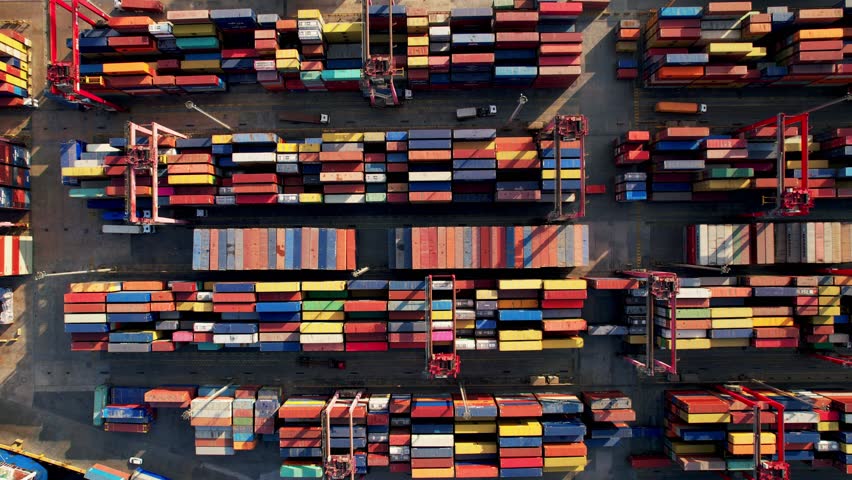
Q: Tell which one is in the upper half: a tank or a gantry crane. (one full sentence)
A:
Visible in the upper half is a gantry crane.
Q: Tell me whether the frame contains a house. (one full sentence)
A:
No, this view has no house in it.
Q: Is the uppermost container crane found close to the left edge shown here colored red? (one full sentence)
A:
Yes, the uppermost container crane found close to the left edge is red.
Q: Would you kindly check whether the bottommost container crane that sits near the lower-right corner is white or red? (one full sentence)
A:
In this view, the bottommost container crane that sits near the lower-right corner is red.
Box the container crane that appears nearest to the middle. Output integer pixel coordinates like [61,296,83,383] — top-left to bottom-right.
[424,269,462,382]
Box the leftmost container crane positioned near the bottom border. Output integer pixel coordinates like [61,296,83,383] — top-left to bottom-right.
[324,384,369,480]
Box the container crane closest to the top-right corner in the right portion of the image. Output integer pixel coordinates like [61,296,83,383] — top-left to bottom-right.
[727,109,814,220]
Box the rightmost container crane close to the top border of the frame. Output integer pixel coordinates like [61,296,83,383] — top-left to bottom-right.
[360,0,408,109]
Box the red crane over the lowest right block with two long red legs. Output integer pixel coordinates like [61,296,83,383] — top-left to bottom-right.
[710,380,793,480]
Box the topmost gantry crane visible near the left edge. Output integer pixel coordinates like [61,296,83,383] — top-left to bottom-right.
[42,0,126,111]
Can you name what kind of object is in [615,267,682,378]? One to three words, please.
container crane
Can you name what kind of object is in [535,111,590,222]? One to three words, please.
container crane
